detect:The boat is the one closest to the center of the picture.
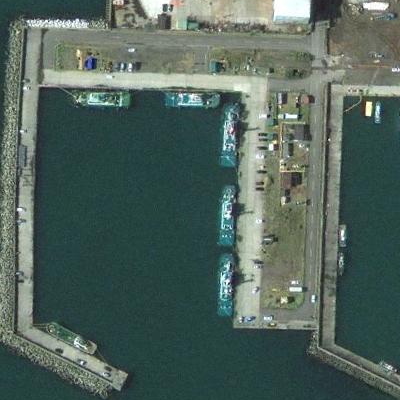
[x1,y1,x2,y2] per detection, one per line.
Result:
[219,182,235,246]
